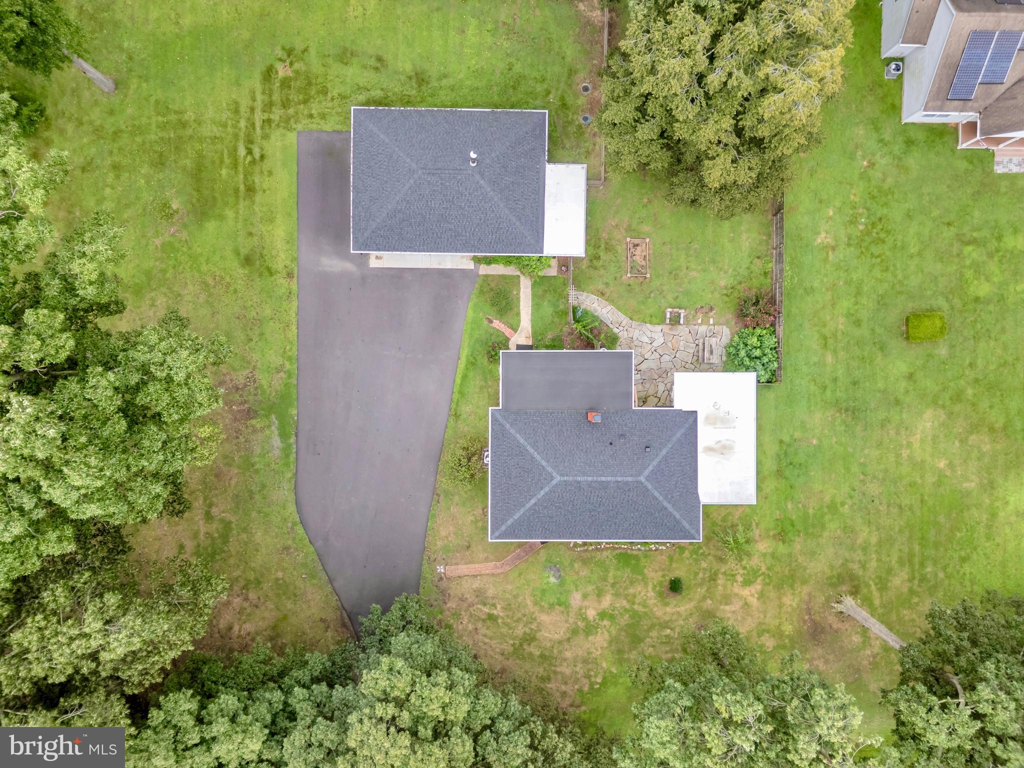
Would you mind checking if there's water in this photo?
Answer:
No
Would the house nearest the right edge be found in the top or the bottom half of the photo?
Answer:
top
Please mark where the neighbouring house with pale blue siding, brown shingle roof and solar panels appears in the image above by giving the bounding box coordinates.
[881,0,1024,159]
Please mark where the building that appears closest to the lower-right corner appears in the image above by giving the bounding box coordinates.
[489,349,757,542]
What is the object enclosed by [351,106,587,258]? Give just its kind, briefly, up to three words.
building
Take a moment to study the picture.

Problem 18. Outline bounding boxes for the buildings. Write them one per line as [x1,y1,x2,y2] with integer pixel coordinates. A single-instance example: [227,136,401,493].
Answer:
[351,106,587,258]
[881,0,1024,159]
[489,349,757,542]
